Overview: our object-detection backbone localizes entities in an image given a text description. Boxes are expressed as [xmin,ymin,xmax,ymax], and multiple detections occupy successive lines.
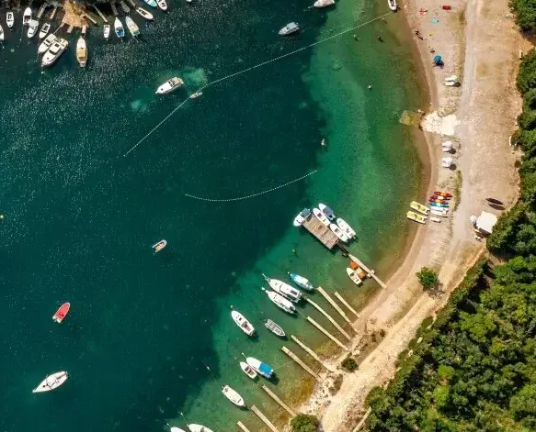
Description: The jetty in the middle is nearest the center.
[303,213,339,249]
